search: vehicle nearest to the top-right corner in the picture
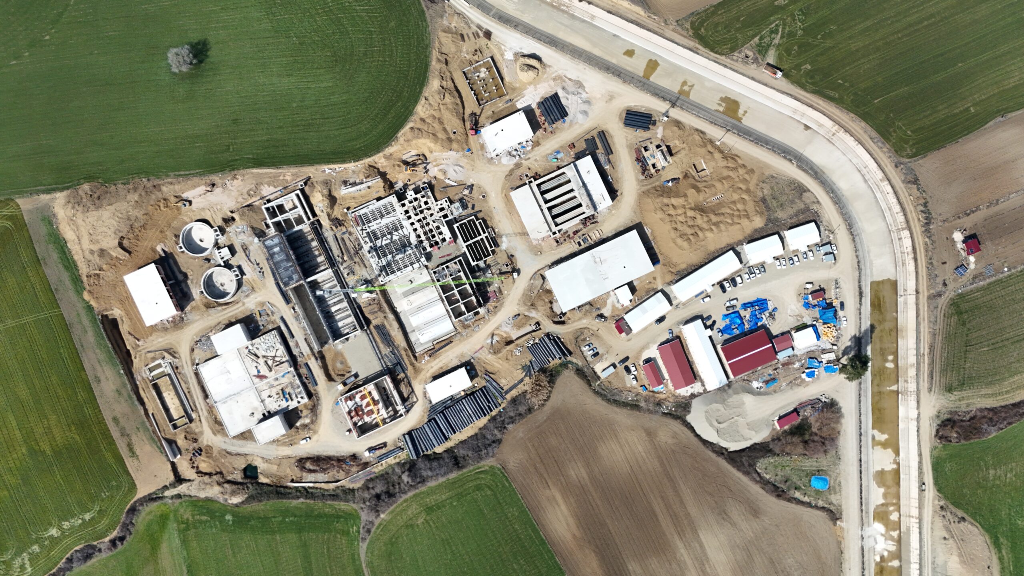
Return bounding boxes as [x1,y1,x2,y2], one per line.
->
[763,62,785,78]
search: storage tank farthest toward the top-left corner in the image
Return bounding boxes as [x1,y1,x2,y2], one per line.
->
[177,221,224,257]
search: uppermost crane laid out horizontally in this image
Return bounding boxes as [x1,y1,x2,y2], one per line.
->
[315,277,505,296]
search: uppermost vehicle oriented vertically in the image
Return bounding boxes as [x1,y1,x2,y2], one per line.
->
[466,110,479,139]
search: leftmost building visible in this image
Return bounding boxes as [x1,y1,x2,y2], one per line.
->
[124,264,183,327]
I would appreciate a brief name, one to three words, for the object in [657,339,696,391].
shed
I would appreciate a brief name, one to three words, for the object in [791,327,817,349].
building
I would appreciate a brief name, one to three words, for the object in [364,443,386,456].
vehicle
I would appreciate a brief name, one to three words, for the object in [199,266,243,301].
storage tank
